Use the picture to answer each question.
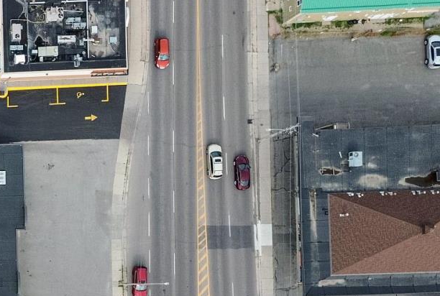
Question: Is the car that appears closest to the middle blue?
No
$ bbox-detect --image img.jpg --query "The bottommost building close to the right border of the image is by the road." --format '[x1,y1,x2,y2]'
[288,119,440,296]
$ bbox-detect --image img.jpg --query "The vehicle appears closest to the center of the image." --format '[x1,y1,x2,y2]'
[205,145,226,179]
